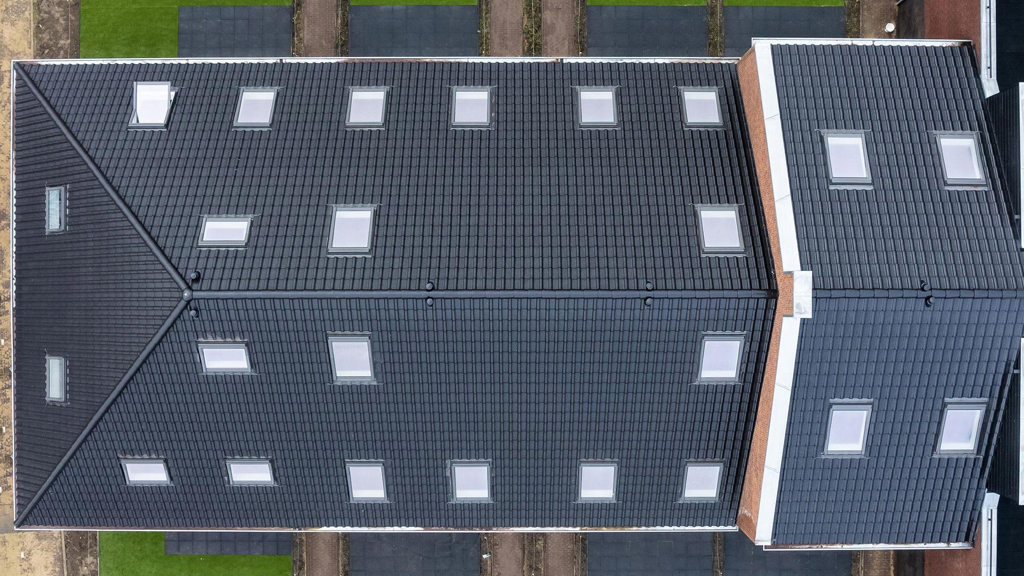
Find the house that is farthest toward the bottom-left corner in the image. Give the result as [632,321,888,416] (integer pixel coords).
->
[10,57,778,531]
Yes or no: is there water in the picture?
No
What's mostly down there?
buildings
